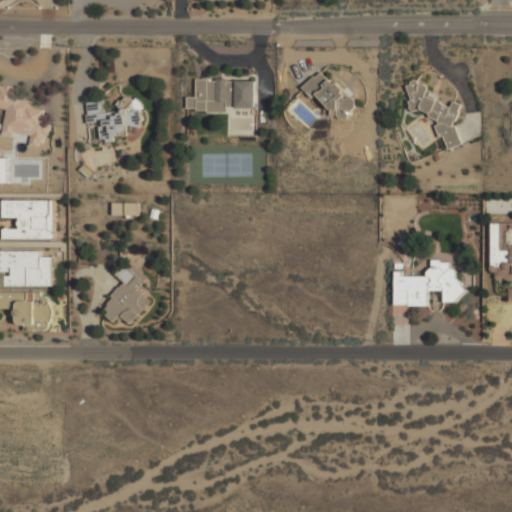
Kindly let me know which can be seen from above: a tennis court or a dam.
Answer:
tennis court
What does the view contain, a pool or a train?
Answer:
pool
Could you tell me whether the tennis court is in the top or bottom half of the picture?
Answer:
top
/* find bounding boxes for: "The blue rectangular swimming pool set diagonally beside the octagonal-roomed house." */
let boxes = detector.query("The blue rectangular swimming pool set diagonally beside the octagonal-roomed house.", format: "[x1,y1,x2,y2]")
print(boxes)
[286,98,320,129]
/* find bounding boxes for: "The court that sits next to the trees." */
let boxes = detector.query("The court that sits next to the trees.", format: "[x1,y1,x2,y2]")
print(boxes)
[189,146,266,186]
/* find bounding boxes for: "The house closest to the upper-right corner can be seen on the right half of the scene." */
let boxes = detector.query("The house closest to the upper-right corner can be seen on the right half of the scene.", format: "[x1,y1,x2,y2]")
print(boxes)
[405,80,462,148]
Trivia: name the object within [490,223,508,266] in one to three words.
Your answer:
building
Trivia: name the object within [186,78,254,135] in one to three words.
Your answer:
house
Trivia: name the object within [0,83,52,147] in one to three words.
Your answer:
house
